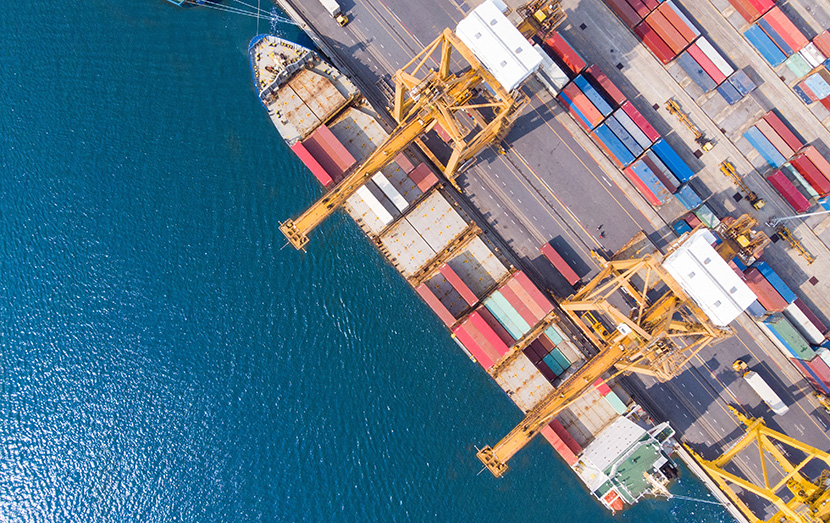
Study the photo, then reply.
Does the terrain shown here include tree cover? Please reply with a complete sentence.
No, tree cover can't be seen anywhere here.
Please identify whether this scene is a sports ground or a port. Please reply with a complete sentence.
This image shows a port.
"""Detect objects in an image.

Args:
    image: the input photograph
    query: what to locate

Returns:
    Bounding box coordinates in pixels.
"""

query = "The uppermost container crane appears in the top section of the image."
[270,0,571,260]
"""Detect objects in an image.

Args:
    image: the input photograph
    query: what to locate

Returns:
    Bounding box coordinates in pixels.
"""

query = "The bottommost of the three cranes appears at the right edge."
[682,402,830,523]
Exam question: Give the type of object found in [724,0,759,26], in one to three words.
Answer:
shipping container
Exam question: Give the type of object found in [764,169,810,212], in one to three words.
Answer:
shipping container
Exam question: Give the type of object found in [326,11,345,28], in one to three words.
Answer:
vehicle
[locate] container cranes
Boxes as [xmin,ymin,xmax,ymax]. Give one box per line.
[682,402,830,523]
[469,209,772,485]
[270,0,571,260]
